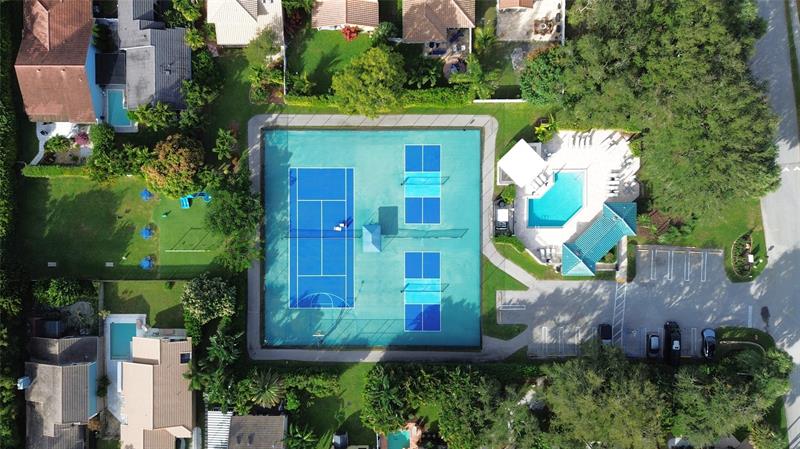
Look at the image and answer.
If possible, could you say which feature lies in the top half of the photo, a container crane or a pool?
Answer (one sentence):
You can see a pool in the top half of the photo.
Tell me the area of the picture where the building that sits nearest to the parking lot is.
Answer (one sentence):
The building that sits nearest to the parking lot is in the right part of the image.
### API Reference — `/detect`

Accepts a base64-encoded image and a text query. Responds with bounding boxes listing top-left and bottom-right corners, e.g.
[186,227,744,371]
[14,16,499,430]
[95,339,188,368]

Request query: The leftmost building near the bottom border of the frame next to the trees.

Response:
[17,335,103,449]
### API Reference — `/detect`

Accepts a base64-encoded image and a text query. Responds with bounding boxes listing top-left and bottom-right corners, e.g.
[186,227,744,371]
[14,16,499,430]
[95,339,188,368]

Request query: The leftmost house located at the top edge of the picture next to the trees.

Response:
[12,0,104,122]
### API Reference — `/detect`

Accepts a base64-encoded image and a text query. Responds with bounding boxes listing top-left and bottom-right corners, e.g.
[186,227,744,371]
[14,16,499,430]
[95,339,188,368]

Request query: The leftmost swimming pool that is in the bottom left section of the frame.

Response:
[109,322,138,361]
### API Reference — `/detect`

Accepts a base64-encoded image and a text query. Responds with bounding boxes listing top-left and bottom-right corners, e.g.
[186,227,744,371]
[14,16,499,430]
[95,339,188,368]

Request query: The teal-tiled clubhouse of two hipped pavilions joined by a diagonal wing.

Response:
[561,201,638,276]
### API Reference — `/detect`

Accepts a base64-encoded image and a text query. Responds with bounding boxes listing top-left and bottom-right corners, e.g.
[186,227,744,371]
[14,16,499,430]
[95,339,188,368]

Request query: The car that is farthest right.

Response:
[703,329,719,358]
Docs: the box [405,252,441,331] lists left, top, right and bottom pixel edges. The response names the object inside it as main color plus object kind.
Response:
blue sports court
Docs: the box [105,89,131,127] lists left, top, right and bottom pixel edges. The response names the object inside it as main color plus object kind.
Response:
blue swimming pool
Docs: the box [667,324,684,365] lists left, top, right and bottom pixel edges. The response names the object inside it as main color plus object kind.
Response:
black vehicle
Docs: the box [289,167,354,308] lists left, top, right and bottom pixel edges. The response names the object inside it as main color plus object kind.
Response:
blue tennis court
